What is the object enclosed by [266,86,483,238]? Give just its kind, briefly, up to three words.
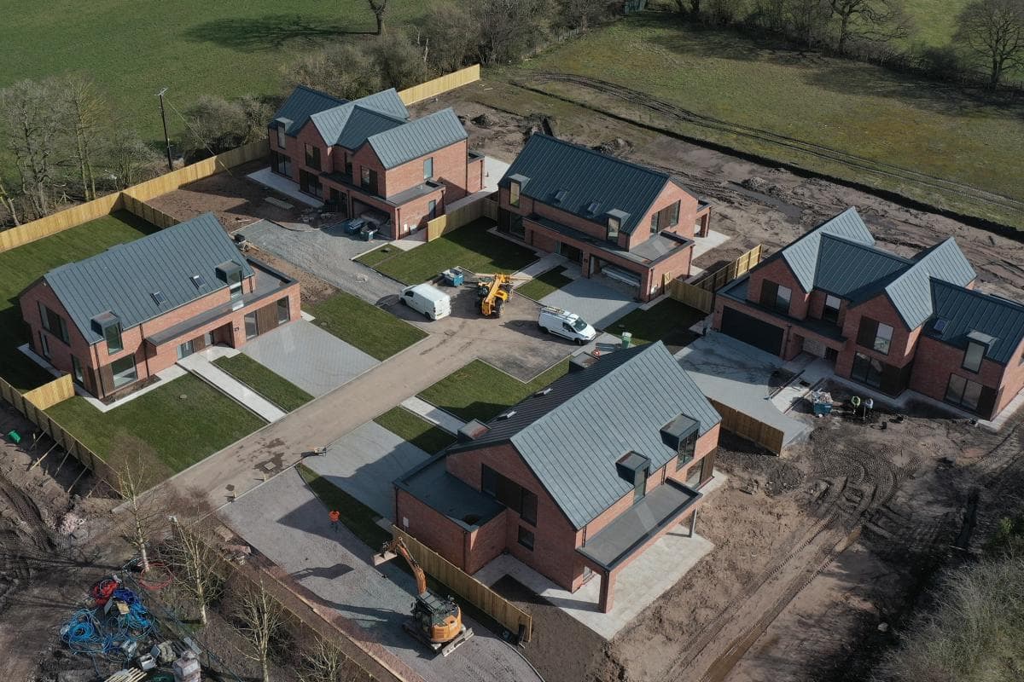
house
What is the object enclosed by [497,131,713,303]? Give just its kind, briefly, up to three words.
house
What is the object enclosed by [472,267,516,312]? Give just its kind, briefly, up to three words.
work vehicle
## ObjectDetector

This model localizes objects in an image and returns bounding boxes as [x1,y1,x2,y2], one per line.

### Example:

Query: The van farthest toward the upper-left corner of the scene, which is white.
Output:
[399,280,453,320]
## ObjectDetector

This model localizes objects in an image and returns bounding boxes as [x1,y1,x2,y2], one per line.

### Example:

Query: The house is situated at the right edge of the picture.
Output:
[714,205,1024,421]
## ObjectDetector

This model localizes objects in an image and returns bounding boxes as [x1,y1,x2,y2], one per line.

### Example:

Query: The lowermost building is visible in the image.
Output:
[394,340,723,612]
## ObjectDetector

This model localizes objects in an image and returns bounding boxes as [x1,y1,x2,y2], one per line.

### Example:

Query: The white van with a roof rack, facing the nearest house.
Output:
[535,297,598,342]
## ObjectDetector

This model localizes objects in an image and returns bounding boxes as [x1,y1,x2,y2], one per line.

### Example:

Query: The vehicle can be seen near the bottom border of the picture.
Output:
[378,533,474,655]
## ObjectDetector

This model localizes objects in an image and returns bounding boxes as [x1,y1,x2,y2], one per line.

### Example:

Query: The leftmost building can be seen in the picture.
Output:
[13,209,304,401]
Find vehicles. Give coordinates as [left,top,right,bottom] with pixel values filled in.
[535,297,598,342]
[378,533,474,655]
[399,280,453,320]
[472,267,516,312]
